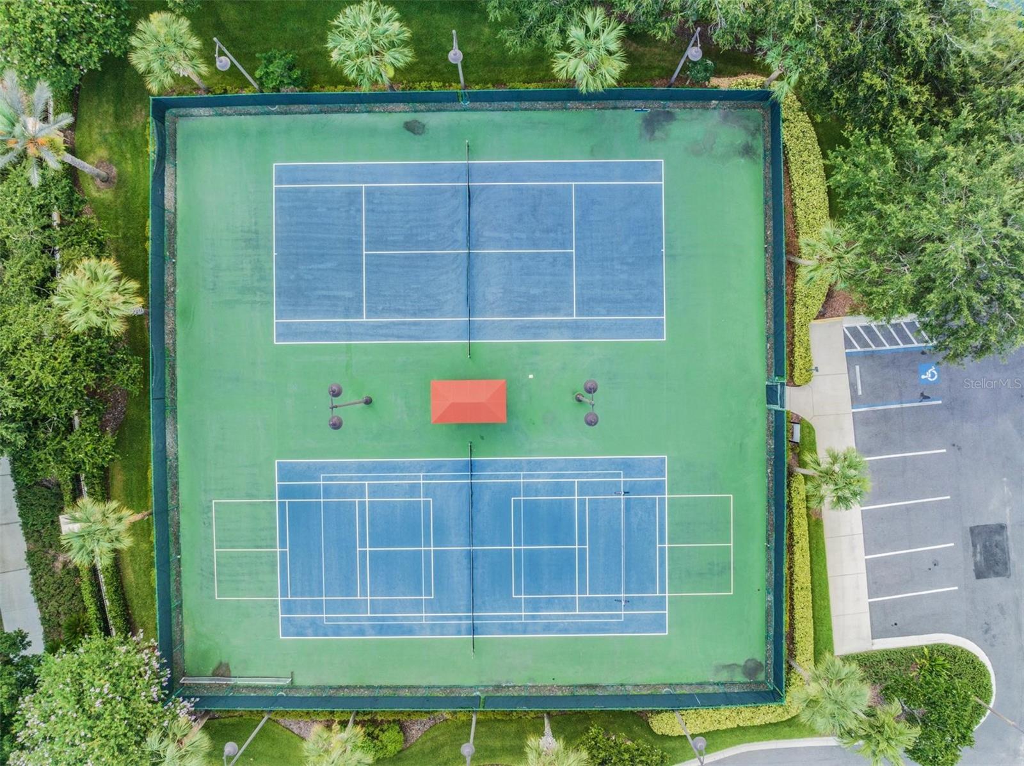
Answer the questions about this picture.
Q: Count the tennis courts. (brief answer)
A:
two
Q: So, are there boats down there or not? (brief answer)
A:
No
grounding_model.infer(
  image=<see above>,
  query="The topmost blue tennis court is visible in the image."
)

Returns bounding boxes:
[274,160,665,344]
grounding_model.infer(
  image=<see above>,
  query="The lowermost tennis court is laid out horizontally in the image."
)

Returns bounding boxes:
[213,456,733,638]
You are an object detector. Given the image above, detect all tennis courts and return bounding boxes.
[213,456,733,638]
[274,160,665,344]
